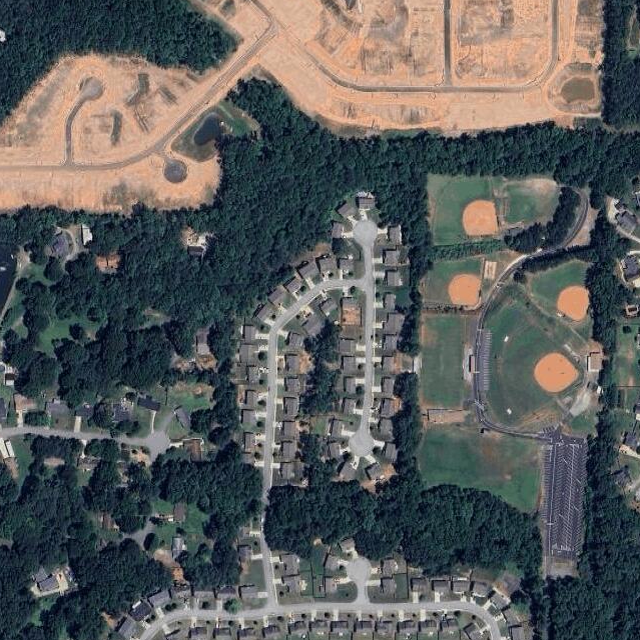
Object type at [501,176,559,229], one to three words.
sports field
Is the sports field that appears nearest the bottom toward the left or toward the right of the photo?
right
